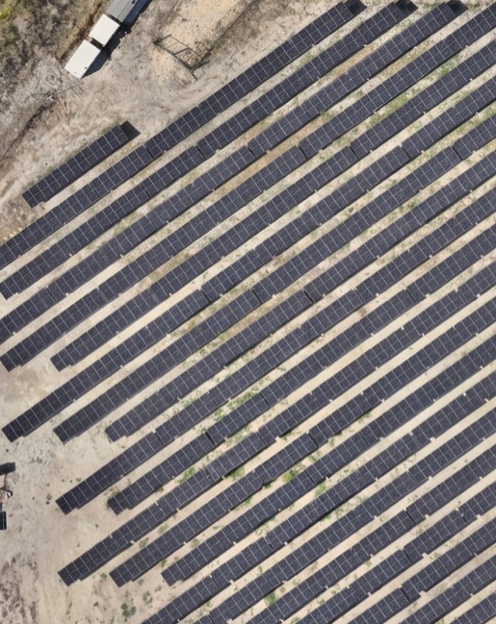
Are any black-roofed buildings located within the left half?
No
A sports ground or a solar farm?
solar farm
